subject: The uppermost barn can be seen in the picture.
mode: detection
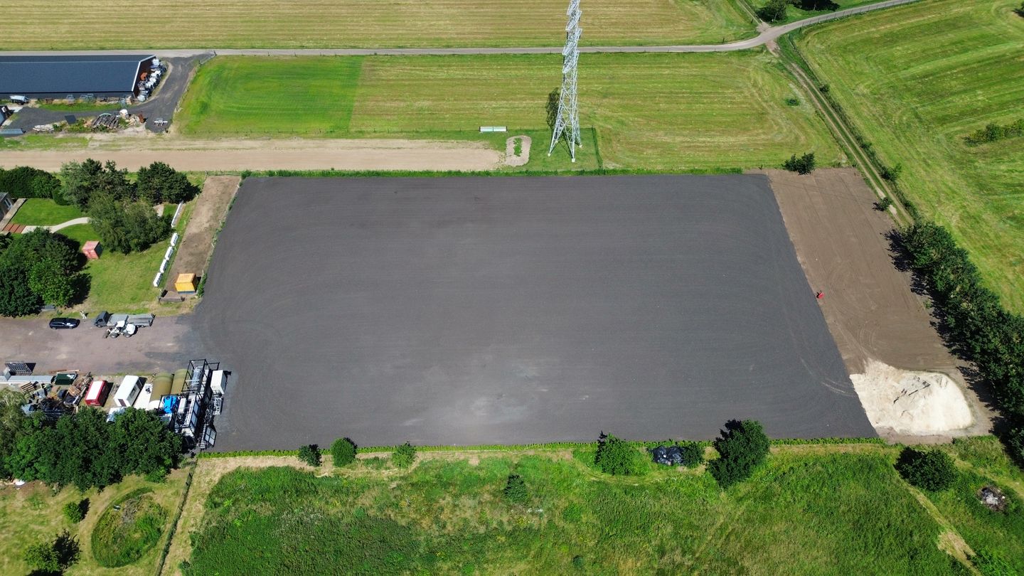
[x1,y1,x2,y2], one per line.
[0,53,156,100]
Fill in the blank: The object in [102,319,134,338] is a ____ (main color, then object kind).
white work vehicle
